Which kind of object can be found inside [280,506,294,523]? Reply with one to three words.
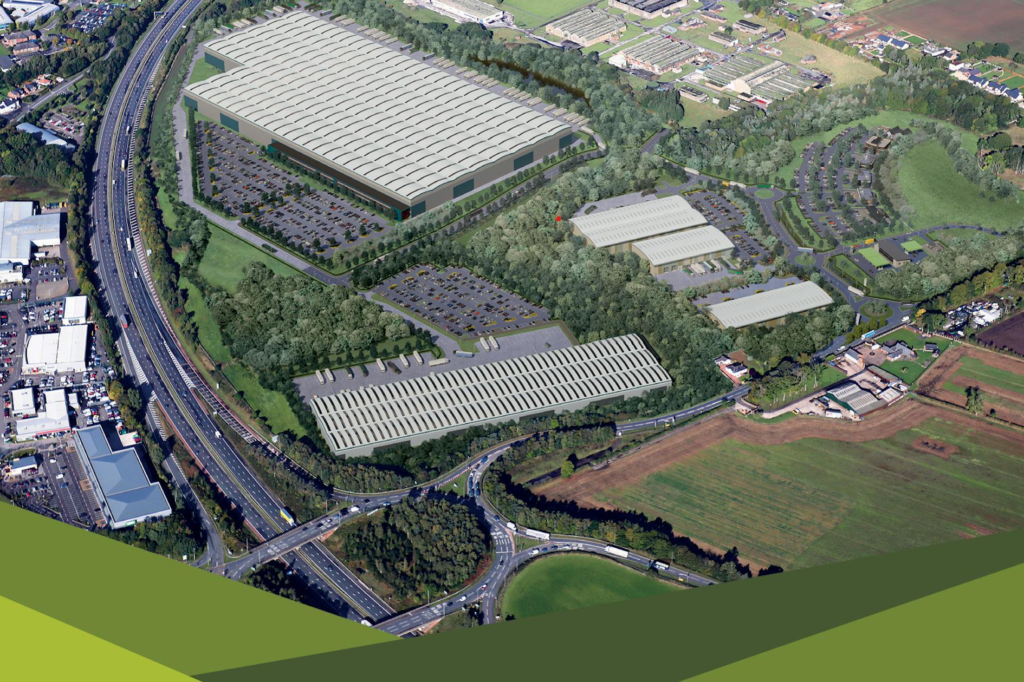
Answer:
vehicle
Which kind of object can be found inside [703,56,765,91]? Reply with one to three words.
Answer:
shed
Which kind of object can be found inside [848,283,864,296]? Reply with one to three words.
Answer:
vehicle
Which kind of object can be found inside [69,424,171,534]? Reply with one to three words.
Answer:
building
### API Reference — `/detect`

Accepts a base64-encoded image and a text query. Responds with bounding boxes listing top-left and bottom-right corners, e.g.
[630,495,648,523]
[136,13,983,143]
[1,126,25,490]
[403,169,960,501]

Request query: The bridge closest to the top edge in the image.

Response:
[242,512,346,566]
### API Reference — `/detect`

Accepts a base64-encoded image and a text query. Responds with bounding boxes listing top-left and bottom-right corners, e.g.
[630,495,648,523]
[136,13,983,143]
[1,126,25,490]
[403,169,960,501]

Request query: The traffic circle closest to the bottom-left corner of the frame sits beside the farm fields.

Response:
[207,487,512,665]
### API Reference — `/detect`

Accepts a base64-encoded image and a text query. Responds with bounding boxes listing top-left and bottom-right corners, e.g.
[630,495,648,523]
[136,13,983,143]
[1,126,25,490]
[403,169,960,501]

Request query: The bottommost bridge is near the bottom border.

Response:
[330,600,444,656]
